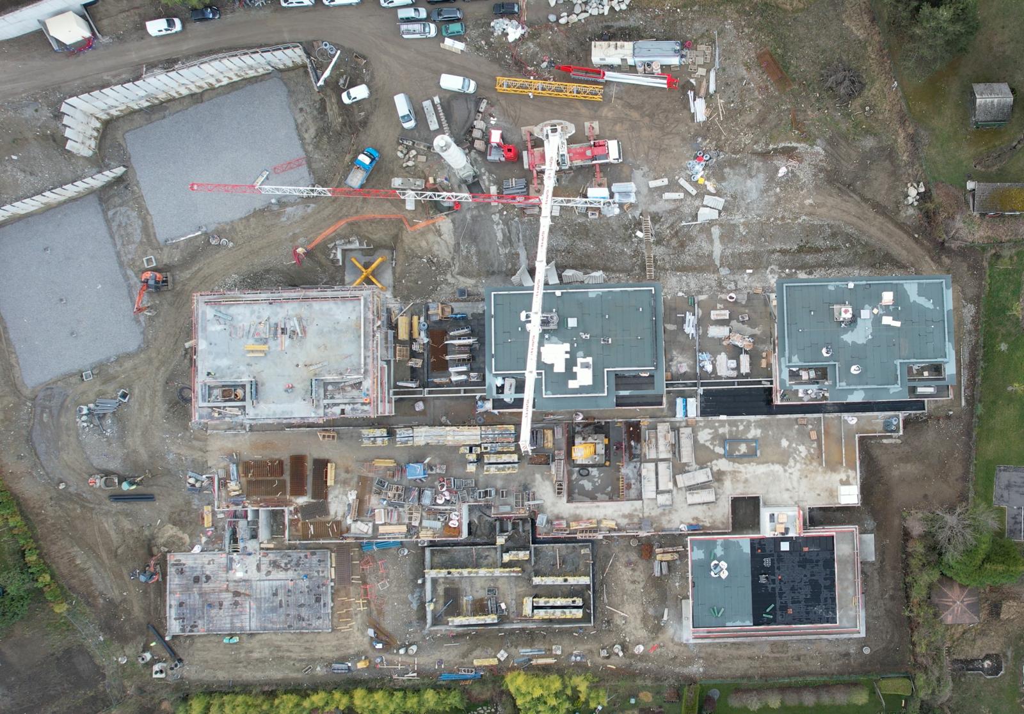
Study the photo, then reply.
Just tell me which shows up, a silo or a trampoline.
silo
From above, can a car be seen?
Yes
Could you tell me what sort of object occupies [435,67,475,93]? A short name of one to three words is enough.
vehicle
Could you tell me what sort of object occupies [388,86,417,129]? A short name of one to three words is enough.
van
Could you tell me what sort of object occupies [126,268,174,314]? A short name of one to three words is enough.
work vehicle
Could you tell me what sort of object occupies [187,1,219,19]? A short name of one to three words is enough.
car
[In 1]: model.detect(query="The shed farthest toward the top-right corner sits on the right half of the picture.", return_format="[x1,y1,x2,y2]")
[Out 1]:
[973,75,1021,118]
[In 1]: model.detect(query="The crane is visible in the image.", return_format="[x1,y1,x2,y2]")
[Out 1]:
[509,118,623,458]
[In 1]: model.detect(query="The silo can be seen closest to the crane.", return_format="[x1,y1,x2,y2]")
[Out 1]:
[434,134,483,192]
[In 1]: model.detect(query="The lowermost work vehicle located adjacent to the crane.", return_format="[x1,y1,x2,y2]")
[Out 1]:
[483,123,519,160]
